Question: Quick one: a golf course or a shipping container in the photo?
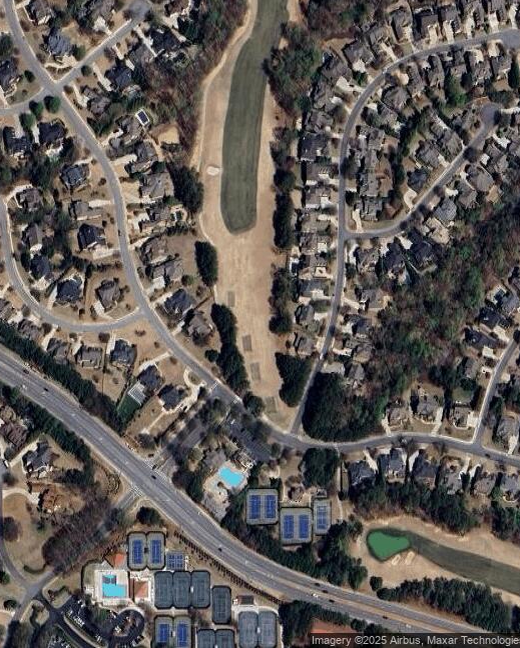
golf course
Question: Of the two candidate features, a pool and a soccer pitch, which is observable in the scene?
pool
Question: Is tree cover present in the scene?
Yes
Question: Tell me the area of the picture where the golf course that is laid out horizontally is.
bottom right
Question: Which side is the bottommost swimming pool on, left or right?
left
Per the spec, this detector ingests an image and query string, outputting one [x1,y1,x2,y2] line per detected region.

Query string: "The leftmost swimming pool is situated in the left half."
[96,570,129,605]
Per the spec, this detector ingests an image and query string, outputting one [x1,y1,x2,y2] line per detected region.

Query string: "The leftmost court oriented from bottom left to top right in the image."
[118,387,147,422]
